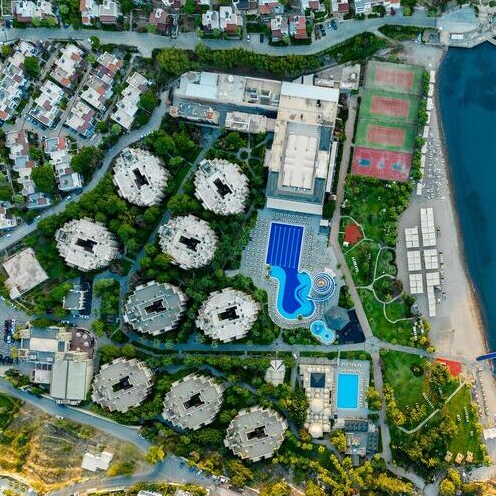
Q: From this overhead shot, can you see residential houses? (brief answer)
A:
Yes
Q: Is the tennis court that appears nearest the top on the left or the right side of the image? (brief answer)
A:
right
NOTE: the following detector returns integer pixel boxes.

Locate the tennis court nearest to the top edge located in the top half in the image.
[364,60,425,95]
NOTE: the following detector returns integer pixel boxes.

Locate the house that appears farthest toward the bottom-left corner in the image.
[82,451,115,471]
